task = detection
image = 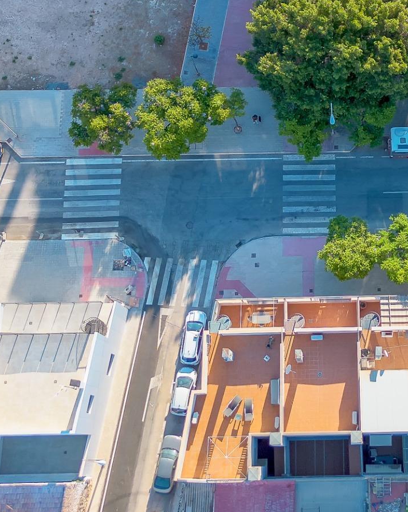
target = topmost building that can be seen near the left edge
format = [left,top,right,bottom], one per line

[0,301,133,481]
